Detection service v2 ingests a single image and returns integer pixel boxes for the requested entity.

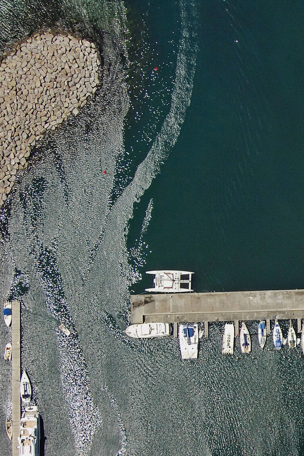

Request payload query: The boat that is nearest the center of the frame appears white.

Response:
[146,270,193,291]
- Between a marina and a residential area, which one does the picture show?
marina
